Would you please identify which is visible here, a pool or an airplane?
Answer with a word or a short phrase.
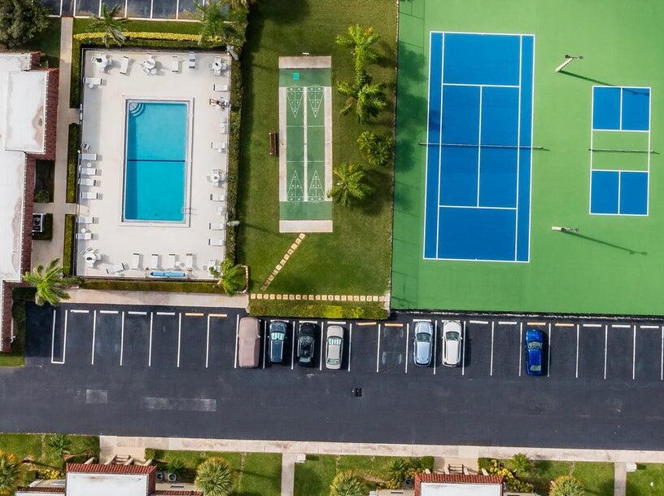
pool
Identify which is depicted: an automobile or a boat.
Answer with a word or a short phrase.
automobile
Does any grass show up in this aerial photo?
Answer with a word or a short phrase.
Yes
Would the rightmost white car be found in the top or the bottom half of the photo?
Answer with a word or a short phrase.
bottom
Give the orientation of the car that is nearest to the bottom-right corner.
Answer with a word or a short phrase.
from top to bottom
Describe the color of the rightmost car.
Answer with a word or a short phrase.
blue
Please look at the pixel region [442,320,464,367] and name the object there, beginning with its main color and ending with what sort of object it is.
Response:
white car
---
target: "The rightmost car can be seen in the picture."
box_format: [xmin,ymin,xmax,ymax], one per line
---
[524,329,545,376]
